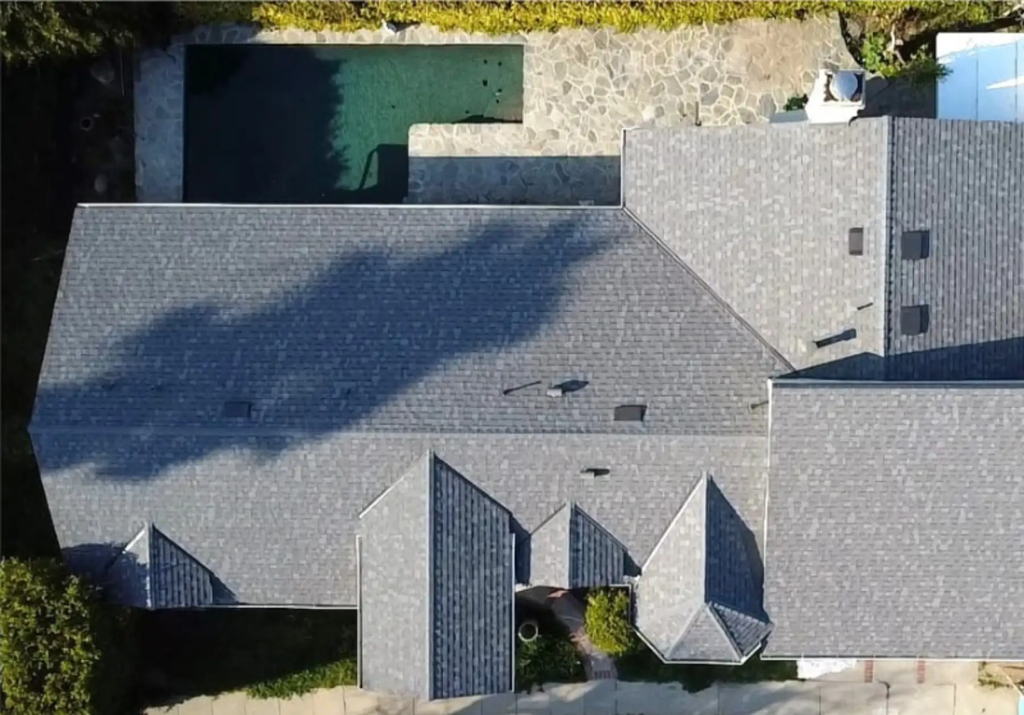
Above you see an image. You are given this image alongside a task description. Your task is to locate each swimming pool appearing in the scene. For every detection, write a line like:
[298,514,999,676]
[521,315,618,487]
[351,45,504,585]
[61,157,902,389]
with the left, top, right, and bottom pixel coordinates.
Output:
[184,44,523,203]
